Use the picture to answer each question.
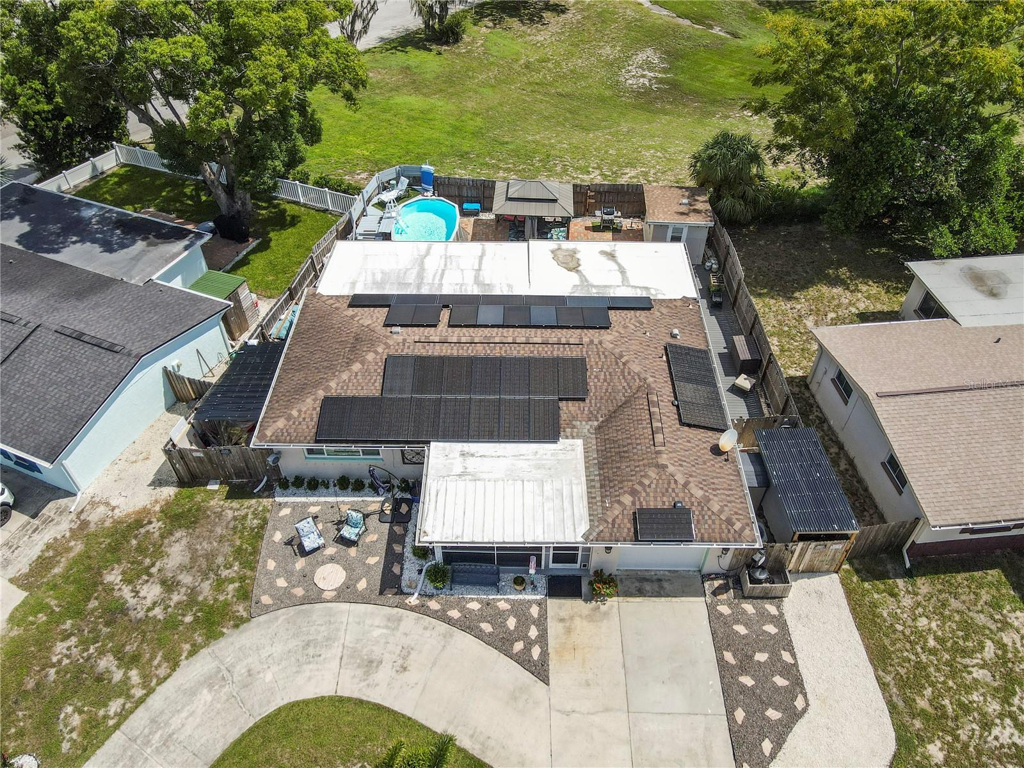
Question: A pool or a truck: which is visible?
pool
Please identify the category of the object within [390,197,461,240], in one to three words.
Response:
swimming pool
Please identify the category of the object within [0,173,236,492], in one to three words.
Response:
house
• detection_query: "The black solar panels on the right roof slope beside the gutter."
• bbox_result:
[663,338,728,429]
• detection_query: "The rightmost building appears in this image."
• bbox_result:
[809,255,1024,556]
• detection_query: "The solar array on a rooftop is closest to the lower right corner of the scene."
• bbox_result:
[636,509,696,542]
